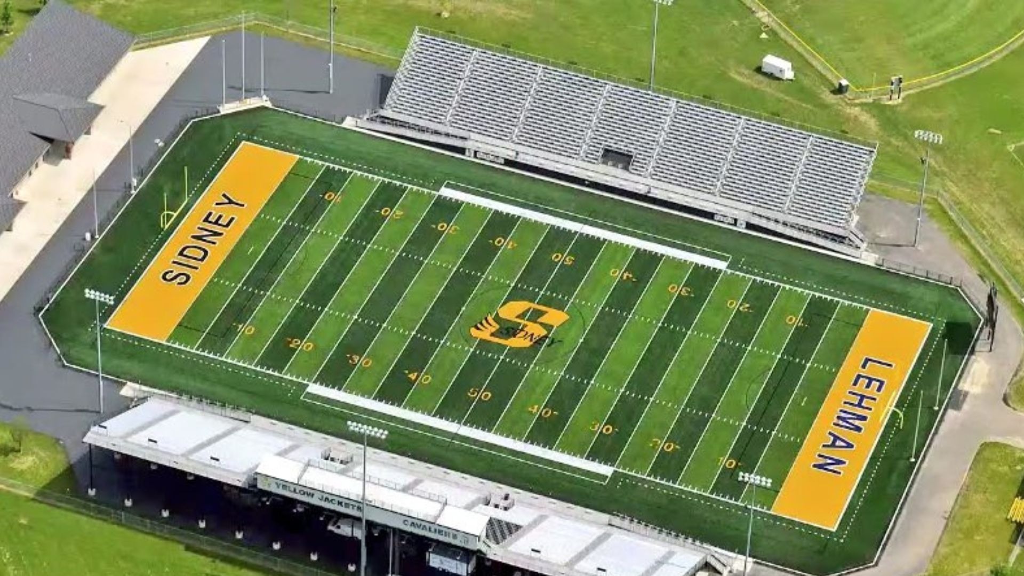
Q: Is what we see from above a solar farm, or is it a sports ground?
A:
sports ground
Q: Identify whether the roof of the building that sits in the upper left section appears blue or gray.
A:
gray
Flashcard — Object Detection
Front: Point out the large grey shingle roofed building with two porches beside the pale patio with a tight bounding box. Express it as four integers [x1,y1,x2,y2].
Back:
[0,0,140,238]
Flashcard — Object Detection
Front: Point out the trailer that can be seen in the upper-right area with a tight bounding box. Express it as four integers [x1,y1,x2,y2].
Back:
[760,53,798,80]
